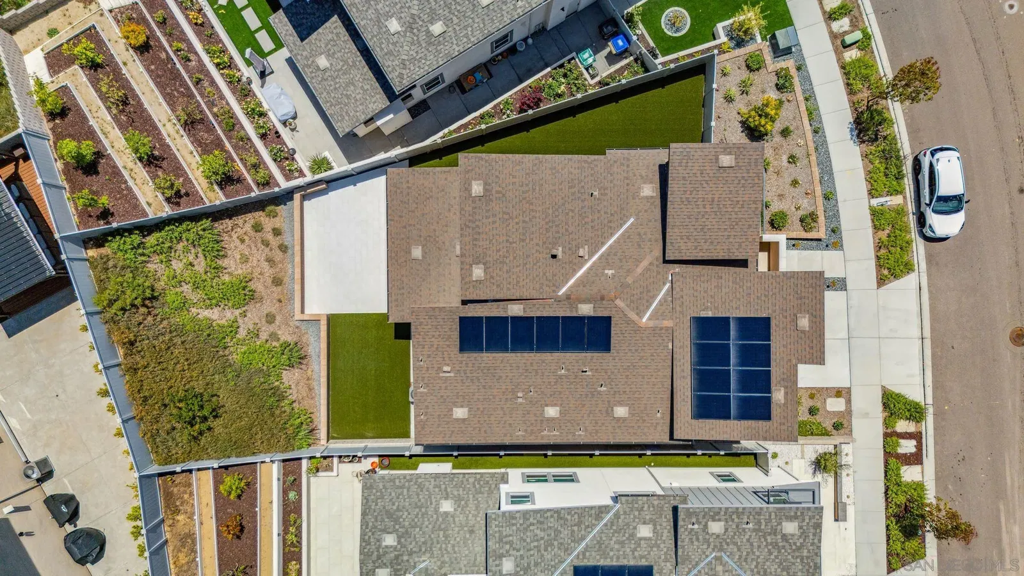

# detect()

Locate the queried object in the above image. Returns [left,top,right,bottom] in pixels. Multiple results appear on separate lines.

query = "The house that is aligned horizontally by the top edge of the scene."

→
[267,0,596,137]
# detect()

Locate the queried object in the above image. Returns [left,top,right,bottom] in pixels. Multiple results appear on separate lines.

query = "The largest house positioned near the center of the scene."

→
[386,143,824,446]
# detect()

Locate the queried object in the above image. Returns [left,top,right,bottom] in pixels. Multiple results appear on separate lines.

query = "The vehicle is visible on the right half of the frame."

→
[912,147,972,238]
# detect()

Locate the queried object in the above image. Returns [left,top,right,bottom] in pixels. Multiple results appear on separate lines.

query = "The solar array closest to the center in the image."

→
[459,316,611,352]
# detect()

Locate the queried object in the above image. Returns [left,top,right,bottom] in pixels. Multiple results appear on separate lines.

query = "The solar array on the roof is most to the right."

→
[691,317,771,420]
